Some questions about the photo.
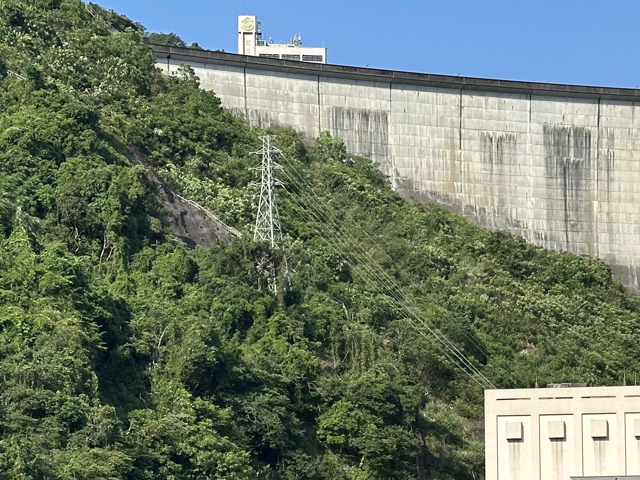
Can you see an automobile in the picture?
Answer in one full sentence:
No, no automobile is visible in the scene.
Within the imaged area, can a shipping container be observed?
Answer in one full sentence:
No, there is no shipping container in the image.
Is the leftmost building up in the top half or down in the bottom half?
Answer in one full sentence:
You can find the leftmost building in the top half.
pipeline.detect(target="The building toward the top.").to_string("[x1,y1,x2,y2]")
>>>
[238,15,331,60]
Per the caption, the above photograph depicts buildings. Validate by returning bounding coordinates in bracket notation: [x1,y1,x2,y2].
[486,380,640,480]
[238,15,331,60]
